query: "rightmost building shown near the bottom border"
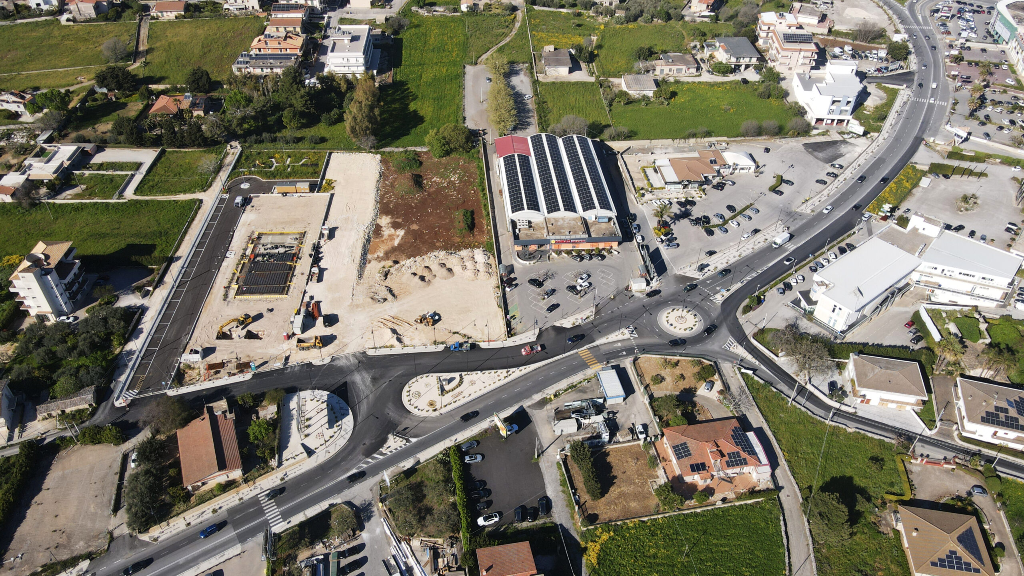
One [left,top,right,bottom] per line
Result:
[894,505,996,576]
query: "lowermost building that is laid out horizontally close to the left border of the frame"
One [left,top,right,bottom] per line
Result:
[37,387,99,423]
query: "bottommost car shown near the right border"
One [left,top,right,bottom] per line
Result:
[968,485,991,499]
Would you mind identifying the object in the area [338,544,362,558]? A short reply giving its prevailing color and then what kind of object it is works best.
black car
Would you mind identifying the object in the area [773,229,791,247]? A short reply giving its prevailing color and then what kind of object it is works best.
white vehicle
